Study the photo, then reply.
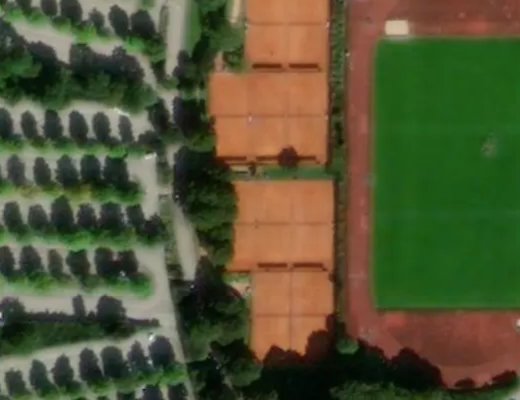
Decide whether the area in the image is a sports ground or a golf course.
sports ground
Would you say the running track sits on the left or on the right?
right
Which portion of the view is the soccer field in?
right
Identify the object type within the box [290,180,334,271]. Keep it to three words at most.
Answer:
tennis court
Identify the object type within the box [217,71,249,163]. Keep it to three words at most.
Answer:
tennis court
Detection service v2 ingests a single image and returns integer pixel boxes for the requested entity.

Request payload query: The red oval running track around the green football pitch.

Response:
[348,0,520,392]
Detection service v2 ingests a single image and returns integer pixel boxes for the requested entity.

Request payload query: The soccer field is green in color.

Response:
[371,36,520,312]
